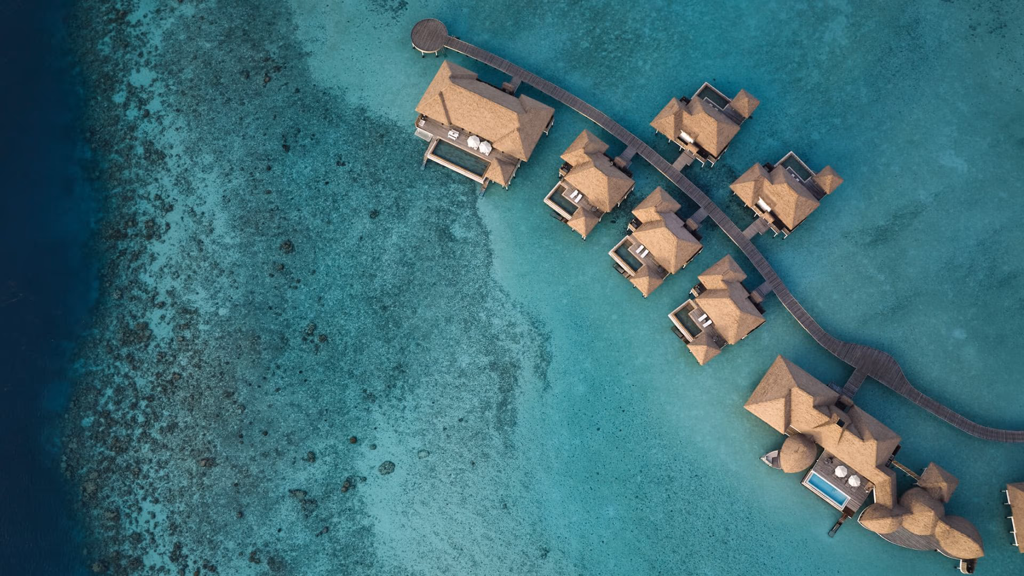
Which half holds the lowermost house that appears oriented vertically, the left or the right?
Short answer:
right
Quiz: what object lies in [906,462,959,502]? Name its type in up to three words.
shed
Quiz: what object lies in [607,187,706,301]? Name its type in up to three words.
house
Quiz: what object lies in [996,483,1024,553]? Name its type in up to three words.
house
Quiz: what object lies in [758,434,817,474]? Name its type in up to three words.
building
